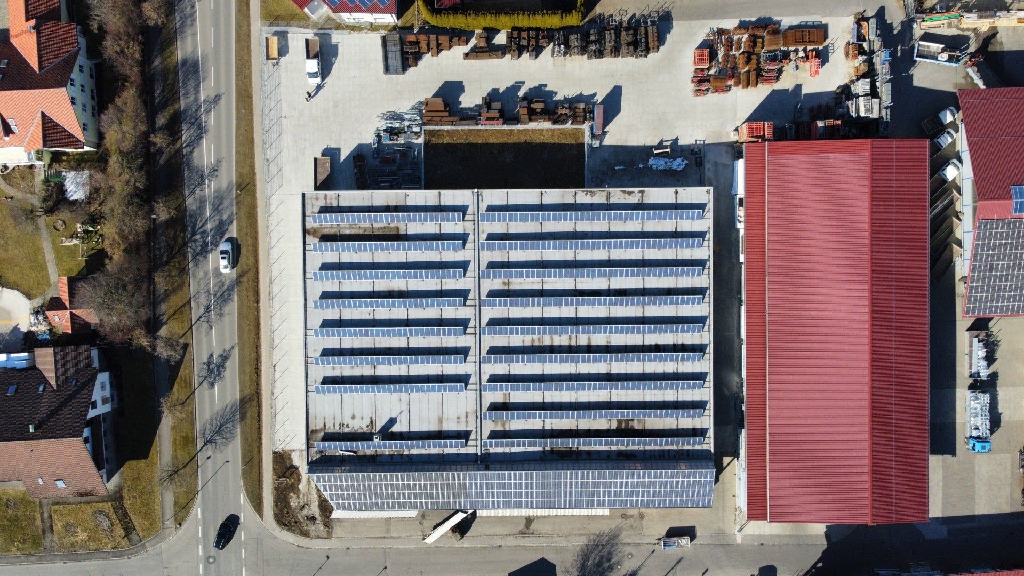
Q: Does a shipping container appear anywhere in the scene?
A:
Yes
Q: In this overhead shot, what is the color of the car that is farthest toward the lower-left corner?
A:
black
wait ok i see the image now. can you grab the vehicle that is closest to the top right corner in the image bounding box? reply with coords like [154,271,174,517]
[962,46,998,72]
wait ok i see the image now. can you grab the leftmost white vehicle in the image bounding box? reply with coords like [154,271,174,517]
[217,242,232,273]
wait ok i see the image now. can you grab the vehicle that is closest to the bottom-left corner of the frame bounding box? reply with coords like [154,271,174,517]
[214,518,236,551]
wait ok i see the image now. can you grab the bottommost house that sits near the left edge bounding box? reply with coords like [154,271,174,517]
[0,345,126,499]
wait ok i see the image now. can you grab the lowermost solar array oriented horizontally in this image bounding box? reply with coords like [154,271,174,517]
[314,471,714,510]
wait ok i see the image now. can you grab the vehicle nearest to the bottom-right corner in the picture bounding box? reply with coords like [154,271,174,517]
[965,391,995,453]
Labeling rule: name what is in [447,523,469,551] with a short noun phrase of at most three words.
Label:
truck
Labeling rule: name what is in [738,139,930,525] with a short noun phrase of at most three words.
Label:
building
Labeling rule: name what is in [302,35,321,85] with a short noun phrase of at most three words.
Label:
vehicle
